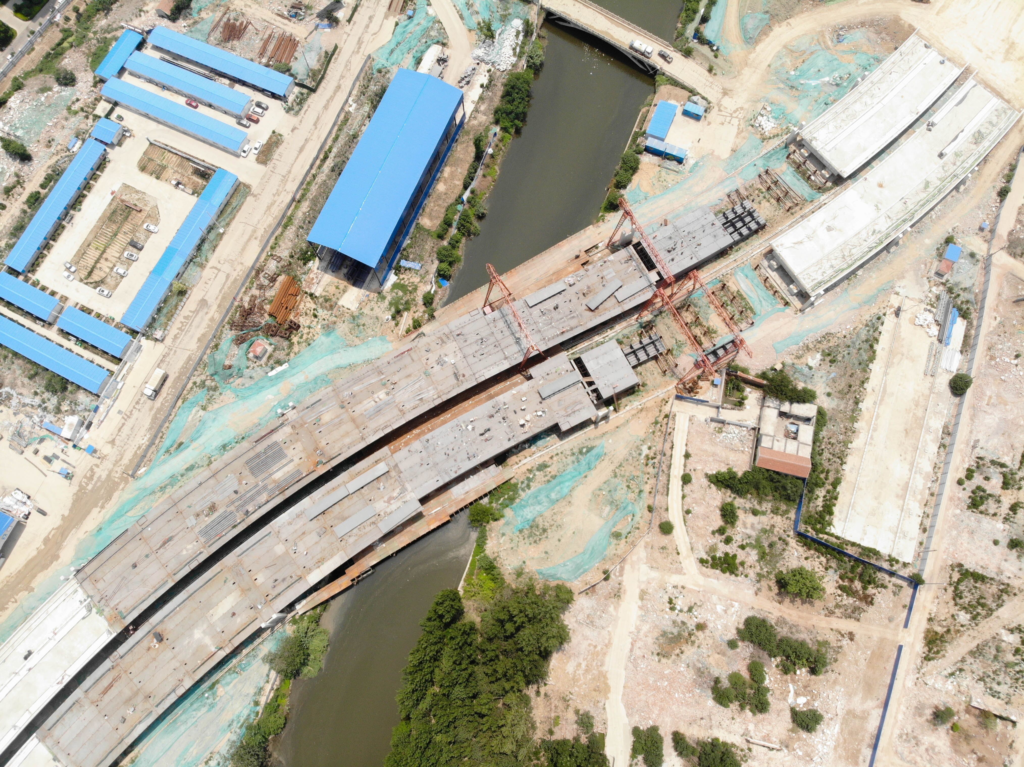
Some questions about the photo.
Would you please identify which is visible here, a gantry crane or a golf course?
gantry crane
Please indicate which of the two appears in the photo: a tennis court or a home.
home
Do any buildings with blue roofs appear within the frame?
Yes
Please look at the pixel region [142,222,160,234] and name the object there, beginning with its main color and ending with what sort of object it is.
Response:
white vehicle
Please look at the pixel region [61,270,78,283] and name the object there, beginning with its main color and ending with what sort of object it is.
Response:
white vehicle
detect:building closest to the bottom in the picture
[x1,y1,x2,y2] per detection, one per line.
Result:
[0,507,31,569]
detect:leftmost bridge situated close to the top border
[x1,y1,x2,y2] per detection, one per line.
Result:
[530,0,709,92]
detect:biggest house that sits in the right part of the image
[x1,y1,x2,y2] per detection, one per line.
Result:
[754,396,818,479]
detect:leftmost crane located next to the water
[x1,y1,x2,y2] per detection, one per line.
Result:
[480,264,551,371]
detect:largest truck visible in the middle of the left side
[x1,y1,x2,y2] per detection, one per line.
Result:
[140,362,169,401]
